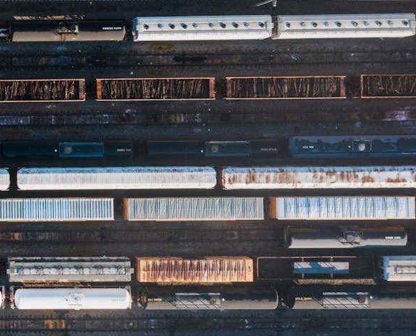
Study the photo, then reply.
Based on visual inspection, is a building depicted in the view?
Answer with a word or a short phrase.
No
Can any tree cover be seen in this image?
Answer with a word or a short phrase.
No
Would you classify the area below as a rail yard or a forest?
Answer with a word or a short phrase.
rail yard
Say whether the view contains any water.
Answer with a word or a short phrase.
No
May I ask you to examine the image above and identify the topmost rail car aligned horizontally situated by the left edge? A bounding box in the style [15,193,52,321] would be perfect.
[3,17,128,44]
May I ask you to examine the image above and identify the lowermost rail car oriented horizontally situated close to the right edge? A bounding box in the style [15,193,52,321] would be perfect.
[279,283,416,311]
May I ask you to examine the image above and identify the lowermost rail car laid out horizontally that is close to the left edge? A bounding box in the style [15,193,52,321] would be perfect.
[8,284,135,312]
